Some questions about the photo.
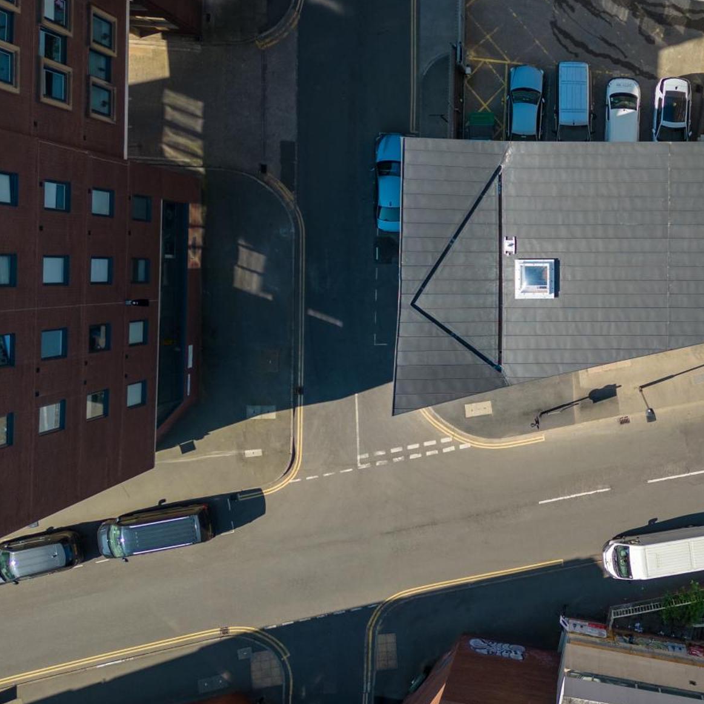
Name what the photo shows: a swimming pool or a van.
van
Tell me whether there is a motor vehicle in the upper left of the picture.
No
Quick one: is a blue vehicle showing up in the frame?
Yes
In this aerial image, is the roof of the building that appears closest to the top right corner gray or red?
gray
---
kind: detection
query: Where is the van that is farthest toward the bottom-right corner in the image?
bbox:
[607,523,704,582]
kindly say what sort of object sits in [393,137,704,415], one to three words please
building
